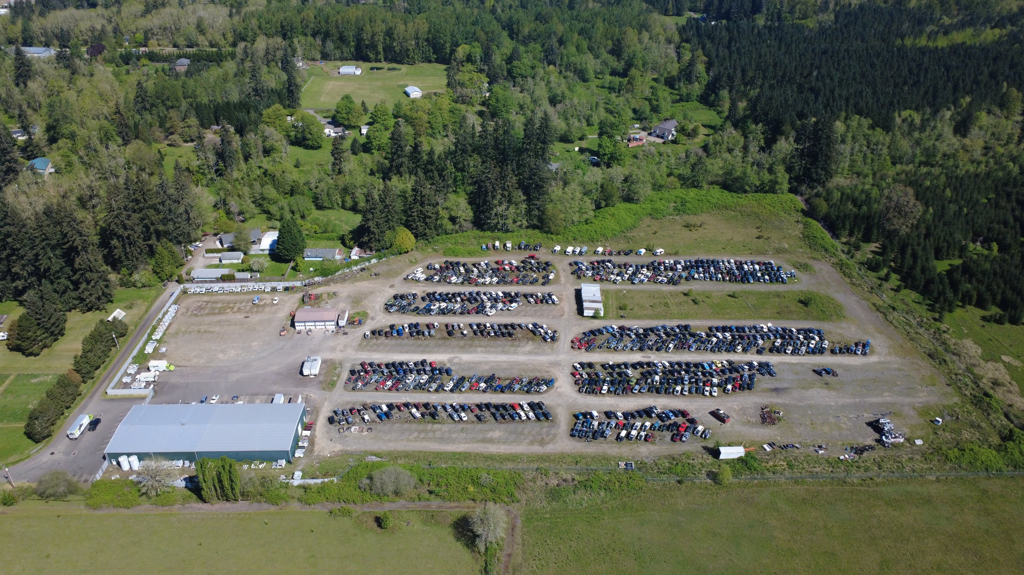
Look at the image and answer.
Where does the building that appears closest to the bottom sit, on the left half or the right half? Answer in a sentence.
You can find the building that appears closest to the bottom on the left side of the picture.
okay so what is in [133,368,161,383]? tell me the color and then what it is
white vehicle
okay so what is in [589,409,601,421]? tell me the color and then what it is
white vehicle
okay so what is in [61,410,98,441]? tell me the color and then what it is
white truck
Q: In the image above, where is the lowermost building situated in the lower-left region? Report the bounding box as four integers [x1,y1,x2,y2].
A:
[104,403,308,466]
